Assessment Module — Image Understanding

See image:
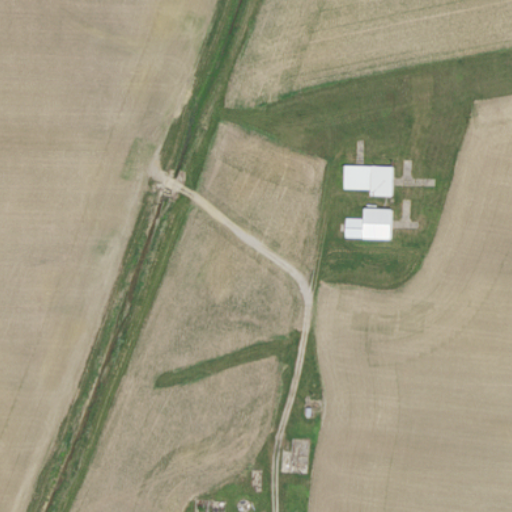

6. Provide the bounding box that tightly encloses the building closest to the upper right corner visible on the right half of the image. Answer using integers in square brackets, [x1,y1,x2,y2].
[345,164,394,196]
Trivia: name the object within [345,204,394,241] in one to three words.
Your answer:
barn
